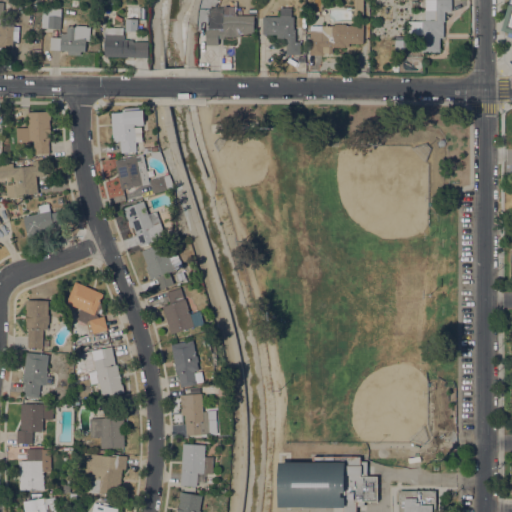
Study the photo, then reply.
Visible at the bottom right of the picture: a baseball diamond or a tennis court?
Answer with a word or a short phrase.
baseball diamond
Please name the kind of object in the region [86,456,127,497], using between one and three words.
house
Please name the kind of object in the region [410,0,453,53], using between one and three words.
building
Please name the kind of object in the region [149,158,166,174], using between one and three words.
swimming pool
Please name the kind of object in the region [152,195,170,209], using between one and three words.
swimming pool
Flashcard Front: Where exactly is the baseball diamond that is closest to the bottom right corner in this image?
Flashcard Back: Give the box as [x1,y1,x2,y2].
[353,362,431,444]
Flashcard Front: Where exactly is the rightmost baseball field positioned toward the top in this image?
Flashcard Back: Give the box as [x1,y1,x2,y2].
[338,143,432,240]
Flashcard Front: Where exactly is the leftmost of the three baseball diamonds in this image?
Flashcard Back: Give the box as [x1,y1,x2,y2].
[214,137,269,188]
